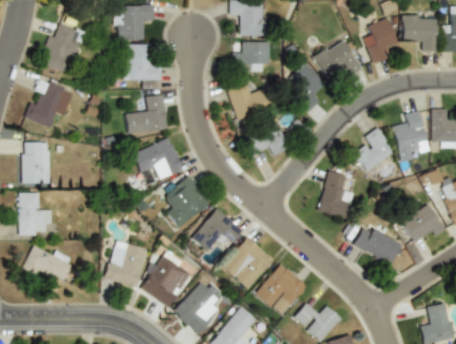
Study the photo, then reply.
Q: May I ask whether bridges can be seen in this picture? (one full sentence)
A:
No, the photo shows no bridge.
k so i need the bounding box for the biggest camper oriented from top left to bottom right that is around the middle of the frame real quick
[226,156,243,174]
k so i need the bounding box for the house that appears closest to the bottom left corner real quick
[22,246,72,281]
